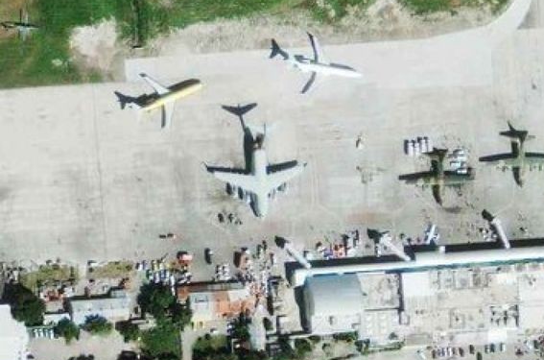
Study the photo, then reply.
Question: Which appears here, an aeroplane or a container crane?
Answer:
aeroplane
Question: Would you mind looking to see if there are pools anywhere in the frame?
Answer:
No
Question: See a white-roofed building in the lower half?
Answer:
Yes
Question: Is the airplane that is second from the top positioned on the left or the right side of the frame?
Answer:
left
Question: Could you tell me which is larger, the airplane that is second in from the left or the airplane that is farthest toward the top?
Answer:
the airplane that is second in from the left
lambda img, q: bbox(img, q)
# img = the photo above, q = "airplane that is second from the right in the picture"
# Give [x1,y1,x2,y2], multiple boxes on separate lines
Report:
[406,152,474,204]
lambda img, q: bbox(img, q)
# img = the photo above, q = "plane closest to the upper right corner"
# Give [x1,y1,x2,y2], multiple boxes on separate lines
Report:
[488,133,544,186]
